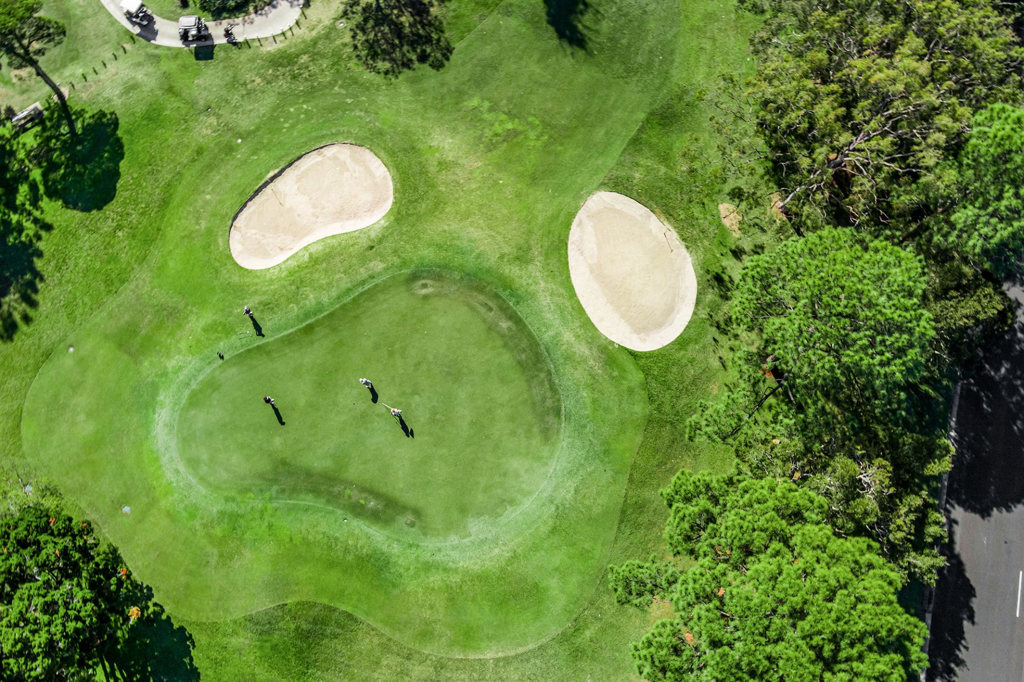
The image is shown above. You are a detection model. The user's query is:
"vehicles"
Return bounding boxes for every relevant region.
[120,0,155,26]
[177,16,211,41]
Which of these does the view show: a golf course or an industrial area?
golf course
